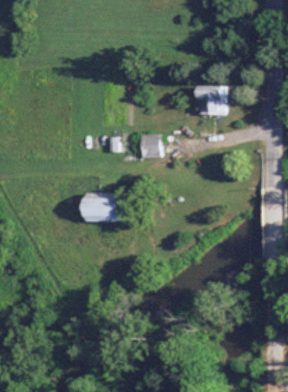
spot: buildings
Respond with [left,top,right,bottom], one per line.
[193,86,230,120]
[110,137,122,152]
[78,192,120,222]
[140,134,164,158]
